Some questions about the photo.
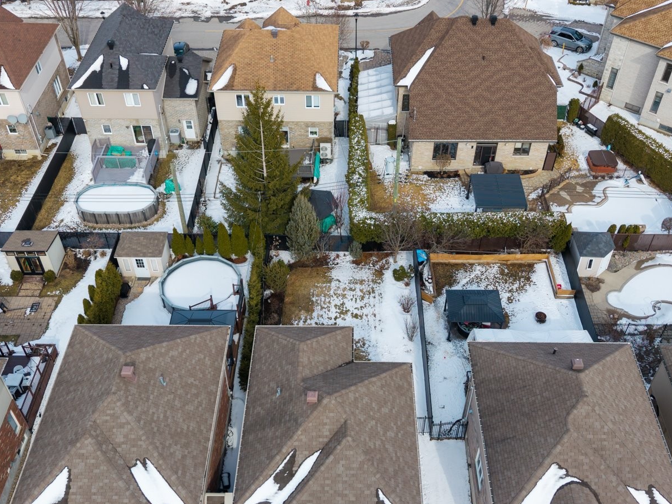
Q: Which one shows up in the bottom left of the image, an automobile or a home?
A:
home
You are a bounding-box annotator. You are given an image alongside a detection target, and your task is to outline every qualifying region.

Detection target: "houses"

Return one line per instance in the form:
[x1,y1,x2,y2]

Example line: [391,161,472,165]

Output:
[389,8,563,172]
[233,326,425,504]
[208,5,339,160]
[590,0,672,133]
[13,325,236,504]
[70,3,209,159]
[460,342,672,504]
[0,4,71,159]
